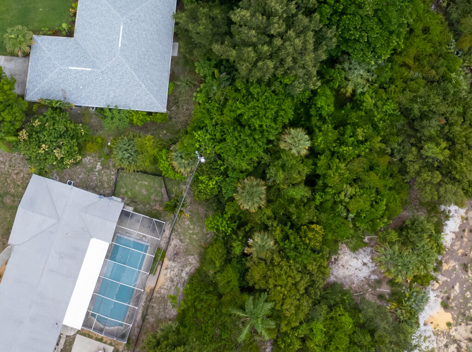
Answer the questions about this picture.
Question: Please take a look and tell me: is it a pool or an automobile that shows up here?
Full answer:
There is a pool in the scene.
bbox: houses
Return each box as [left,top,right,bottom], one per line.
[25,0,176,113]
[0,175,125,352]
